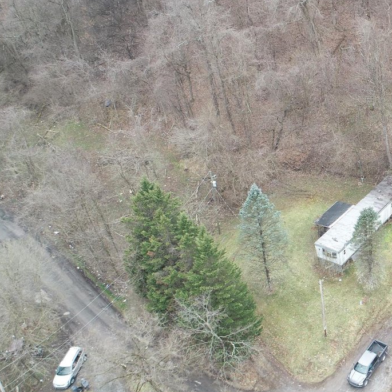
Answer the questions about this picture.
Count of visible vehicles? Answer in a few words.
two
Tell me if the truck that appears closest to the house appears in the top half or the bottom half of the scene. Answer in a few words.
bottom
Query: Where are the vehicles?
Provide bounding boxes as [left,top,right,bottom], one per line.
[347,339,390,389]
[51,346,89,389]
